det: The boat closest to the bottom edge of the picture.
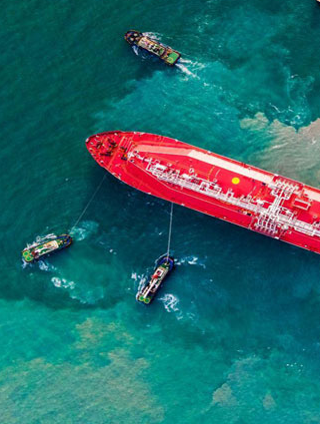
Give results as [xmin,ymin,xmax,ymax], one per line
[138,255,172,303]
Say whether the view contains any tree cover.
No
